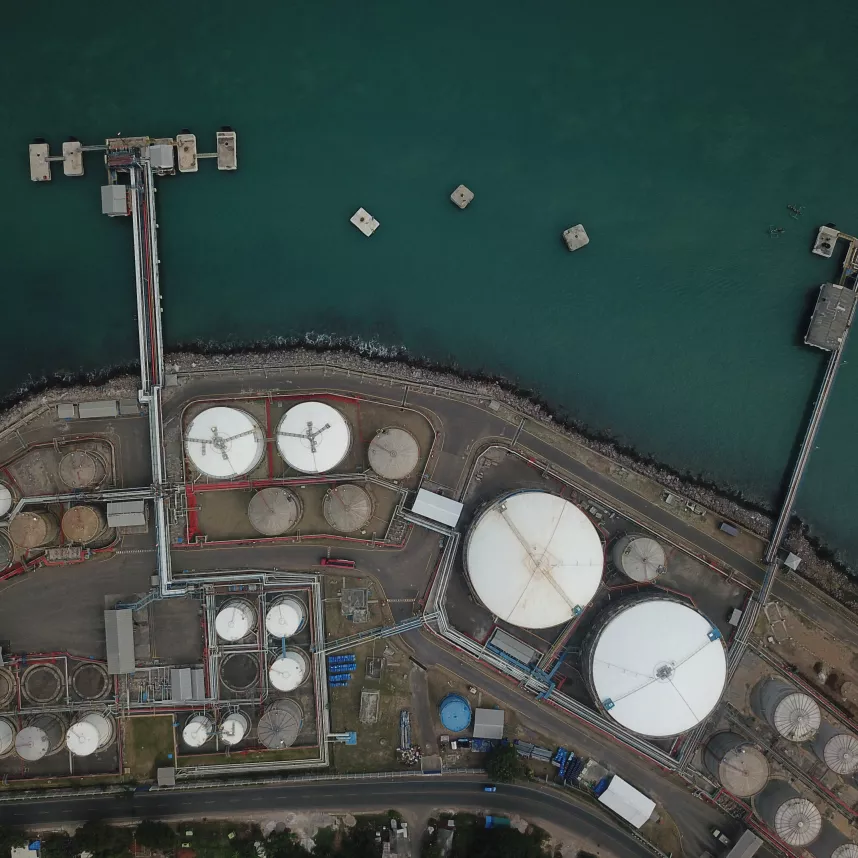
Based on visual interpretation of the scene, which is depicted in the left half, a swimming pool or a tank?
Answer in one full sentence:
Looking in the left half, you will find a tank.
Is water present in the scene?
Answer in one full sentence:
Yes, water can be seen from above here.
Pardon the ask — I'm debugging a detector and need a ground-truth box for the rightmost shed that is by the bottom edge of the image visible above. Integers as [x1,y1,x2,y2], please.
[717,824,763,858]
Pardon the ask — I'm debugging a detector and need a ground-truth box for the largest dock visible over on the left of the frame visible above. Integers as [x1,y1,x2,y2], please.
[104,136,177,392]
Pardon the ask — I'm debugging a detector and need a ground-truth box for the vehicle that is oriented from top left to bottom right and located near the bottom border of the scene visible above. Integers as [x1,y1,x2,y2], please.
[714,830,731,846]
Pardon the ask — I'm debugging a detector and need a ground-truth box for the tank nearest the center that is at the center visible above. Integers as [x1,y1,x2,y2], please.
[366,424,423,483]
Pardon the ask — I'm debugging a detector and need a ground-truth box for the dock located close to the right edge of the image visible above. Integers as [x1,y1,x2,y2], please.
[766,240,858,565]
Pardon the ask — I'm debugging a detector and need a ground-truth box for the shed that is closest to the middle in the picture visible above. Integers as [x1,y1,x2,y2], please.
[412,488,463,527]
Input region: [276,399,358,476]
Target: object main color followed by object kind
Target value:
white storage tank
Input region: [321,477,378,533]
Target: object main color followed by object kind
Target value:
gray storage tank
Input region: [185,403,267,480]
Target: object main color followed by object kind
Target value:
white storage tank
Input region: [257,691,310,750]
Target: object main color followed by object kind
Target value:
gray storage tank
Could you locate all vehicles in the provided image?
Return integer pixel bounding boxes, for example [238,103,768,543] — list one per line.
[483,786,496,793]
[714,830,731,846]
[319,558,355,570]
